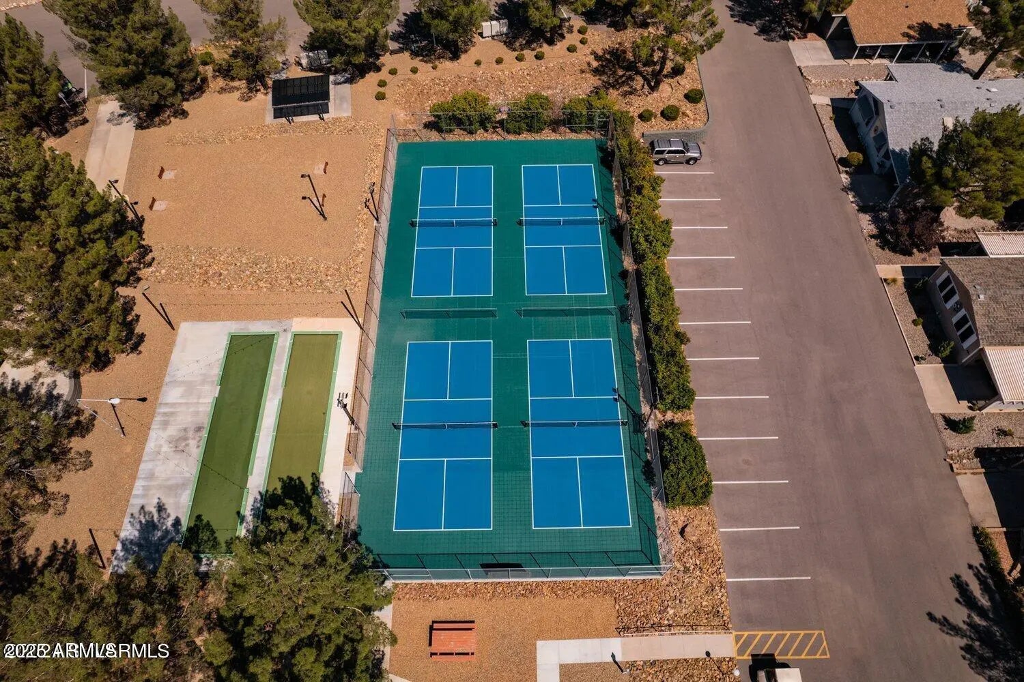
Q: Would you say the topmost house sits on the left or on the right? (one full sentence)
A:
The topmost house is on the right side of the image.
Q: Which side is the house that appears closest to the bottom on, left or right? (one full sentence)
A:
It is on the right.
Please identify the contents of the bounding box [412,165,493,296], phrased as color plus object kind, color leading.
blue sports court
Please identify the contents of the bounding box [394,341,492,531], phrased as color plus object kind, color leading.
blue sports court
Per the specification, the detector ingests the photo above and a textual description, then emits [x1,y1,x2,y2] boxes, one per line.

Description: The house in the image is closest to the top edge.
[826,0,975,64]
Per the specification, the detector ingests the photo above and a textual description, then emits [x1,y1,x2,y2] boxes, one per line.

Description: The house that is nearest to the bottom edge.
[928,231,1024,414]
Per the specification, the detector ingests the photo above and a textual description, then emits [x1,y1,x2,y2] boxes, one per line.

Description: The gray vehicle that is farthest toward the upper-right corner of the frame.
[646,137,702,166]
